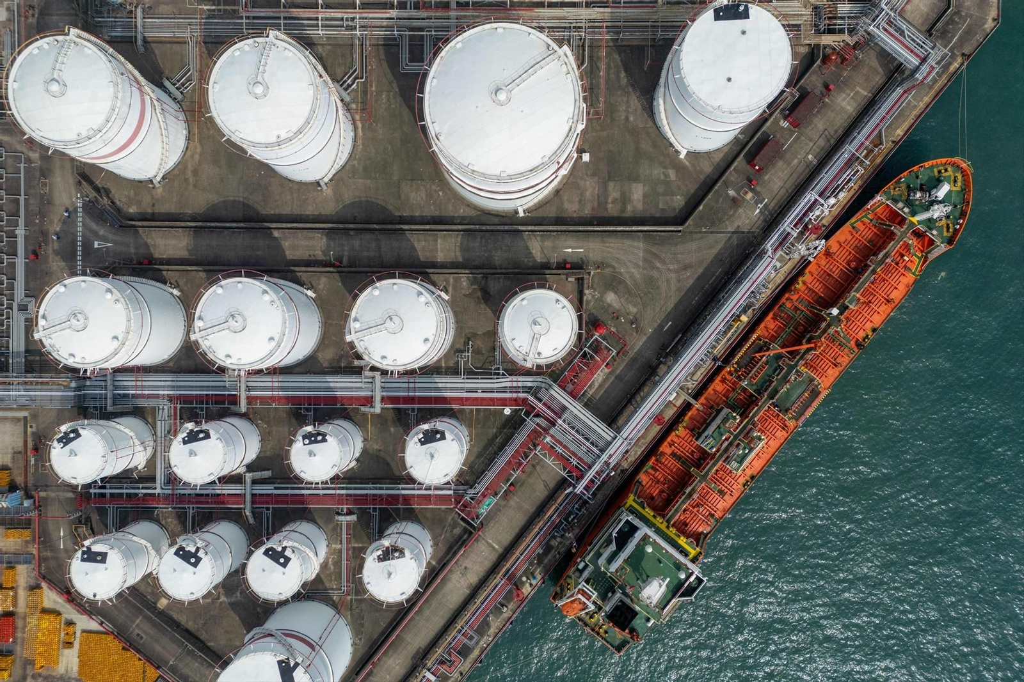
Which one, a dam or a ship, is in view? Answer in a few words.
ship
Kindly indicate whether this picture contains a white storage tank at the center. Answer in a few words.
Yes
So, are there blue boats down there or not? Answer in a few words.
No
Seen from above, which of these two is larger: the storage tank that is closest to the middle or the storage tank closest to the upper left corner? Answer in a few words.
the storage tank closest to the upper left corner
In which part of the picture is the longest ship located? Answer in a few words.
right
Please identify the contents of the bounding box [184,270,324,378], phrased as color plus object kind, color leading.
white storage tank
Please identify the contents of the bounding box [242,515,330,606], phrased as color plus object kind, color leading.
white storage tank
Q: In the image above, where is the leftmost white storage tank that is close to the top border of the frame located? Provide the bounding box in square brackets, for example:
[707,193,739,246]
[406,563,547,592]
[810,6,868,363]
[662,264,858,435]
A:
[3,20,193,186]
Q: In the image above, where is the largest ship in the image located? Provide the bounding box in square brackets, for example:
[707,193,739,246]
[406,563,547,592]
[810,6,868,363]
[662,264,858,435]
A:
[546,160,977,653]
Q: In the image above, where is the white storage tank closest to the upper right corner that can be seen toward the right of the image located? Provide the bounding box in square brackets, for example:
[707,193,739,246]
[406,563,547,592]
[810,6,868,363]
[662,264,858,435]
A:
[653,0,798,157]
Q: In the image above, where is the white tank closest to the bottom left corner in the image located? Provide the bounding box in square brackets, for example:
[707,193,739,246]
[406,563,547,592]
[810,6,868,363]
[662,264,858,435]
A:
[65,514,172,605]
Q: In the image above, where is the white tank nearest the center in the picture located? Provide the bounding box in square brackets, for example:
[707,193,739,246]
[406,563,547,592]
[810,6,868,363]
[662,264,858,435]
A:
[496,285,583,377]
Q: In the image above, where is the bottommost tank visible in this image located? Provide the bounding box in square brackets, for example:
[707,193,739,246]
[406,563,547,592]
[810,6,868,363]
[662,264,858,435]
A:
[211,599,354,682]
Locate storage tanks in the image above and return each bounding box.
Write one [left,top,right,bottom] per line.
[358,516,434,607]
[653,0,798,157]
[204,24,356,186]
[399,416,471,490]
[165,415,261,489]
[184,270,324,378]
[340,271,455,378]
[3,20,193,186]
[26,268,190,377]
[590,323,628,356]
[418,17,587,213]
[284,418,365,489]
[242,515,330,606]
[496,285,583,377]
[65,514,172,605]
[45,414,160,490]
[155,514,251,605]
[211,599,354,682]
